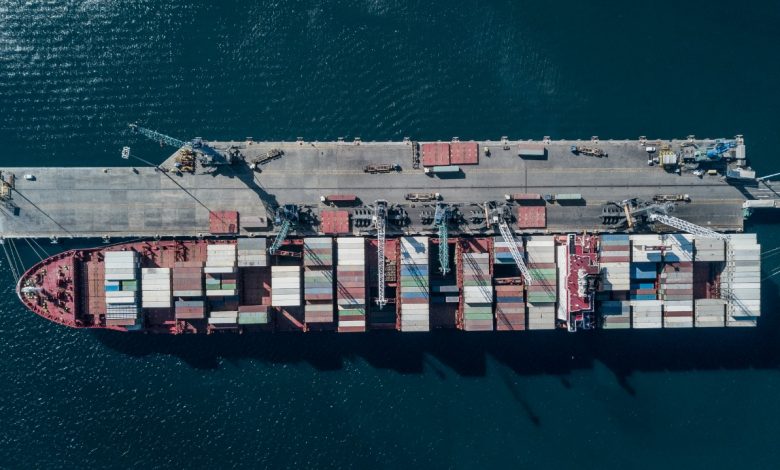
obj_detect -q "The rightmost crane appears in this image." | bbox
[685,140,745,171]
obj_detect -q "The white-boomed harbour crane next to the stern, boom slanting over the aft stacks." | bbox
[609,195,741,250]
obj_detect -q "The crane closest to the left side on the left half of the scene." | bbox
[126,119,245,168]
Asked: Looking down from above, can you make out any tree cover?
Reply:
No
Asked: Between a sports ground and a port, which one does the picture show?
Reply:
port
